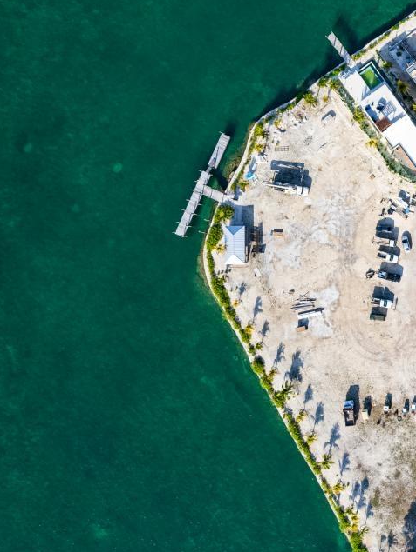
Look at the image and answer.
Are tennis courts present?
No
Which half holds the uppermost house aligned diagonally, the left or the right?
right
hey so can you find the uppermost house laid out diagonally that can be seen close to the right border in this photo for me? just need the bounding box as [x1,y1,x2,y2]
[339,60,416,172]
